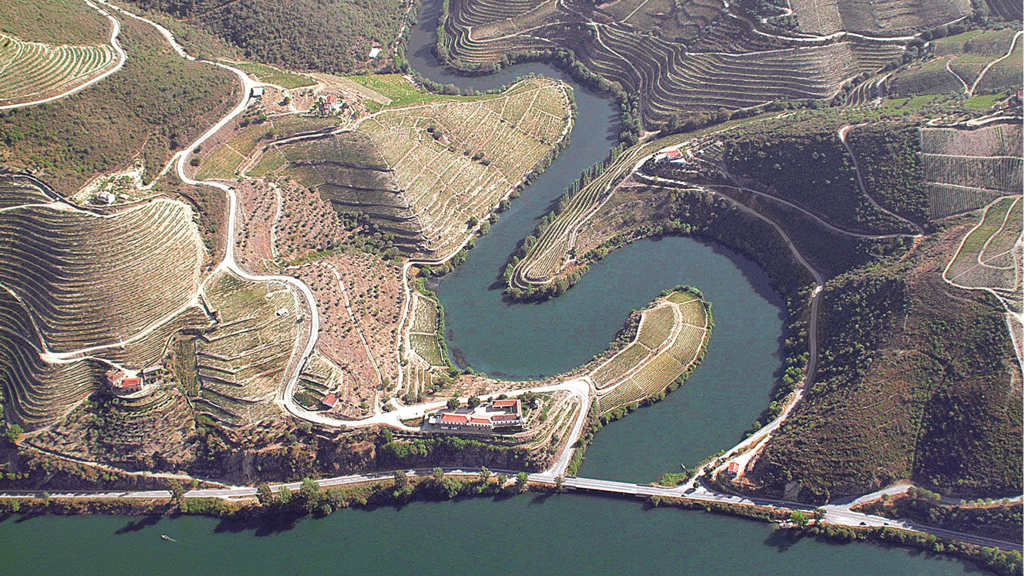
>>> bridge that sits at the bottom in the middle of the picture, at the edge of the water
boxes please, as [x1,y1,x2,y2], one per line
[562,472,657,503]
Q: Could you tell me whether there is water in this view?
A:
Yes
